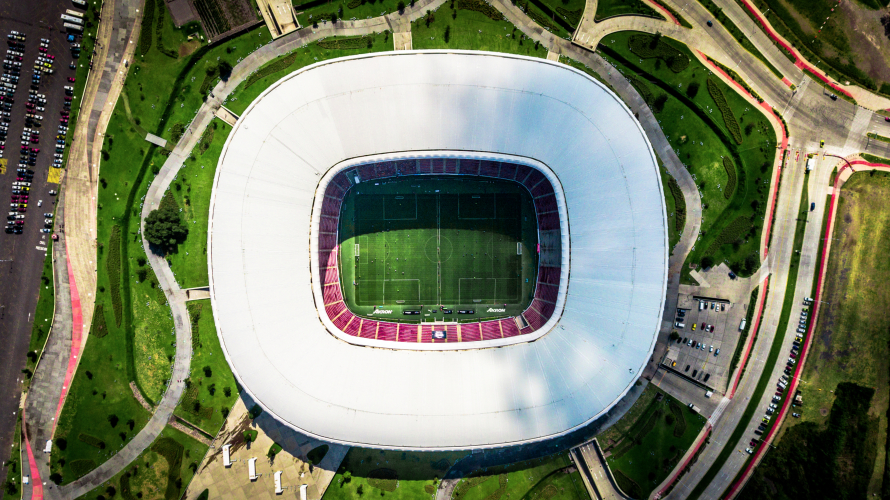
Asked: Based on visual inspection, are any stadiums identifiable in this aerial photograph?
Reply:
Yes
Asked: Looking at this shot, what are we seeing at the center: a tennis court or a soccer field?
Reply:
soccer field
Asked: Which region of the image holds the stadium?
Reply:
center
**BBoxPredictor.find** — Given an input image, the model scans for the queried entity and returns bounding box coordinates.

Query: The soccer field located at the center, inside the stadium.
[340,176,538,324]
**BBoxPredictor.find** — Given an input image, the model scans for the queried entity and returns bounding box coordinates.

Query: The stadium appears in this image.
[209,50,668,450]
